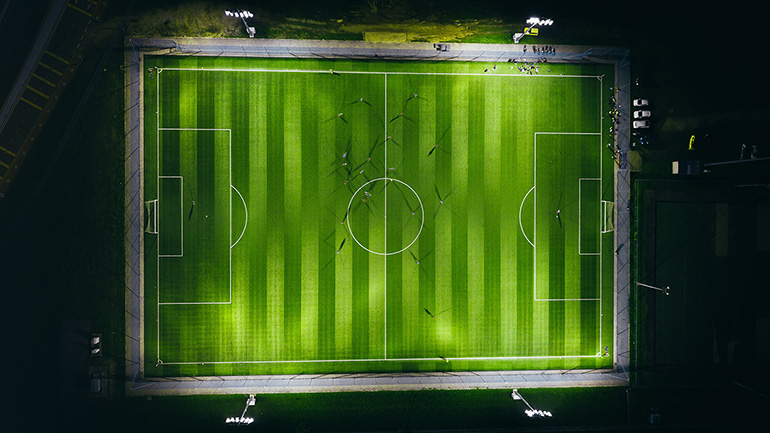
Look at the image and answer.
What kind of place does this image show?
sports ground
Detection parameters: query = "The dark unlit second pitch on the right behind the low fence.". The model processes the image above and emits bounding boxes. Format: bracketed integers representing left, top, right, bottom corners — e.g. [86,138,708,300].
[644,190,770,372]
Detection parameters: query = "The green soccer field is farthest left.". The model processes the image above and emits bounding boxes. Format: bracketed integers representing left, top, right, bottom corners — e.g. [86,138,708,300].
[144,55,614,377]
